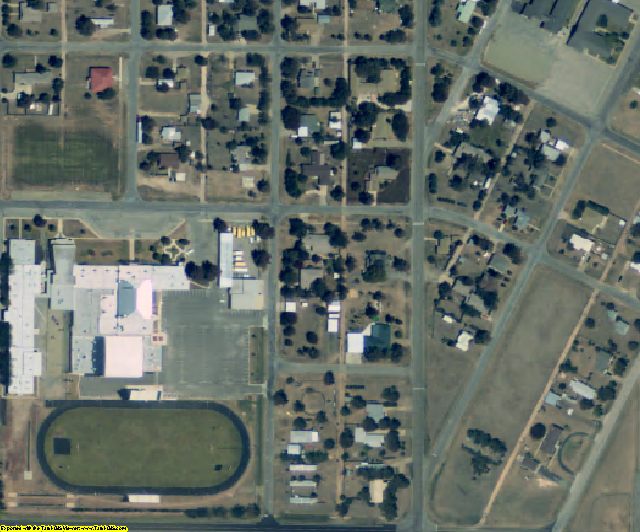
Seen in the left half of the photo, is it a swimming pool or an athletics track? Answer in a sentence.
Looking in the left half of the photo, you will find an athletics track.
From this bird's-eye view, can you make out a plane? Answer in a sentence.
No, the scene contains no plane.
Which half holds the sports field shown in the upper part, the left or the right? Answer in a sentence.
The sports field shown in the upper part appears in the left half of the scene.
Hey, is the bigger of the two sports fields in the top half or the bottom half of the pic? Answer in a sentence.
The bottom half of the photo is where the bigger of the two sports fields is.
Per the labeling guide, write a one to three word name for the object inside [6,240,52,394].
building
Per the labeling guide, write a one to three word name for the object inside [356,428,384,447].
house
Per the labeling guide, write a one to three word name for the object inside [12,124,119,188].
sports field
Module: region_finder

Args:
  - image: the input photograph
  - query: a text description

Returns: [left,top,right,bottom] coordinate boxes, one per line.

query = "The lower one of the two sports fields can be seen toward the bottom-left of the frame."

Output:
[45,408,242,486]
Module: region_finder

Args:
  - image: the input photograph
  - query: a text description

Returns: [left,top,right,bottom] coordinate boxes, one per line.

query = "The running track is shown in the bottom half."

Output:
[38,400,250,494]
